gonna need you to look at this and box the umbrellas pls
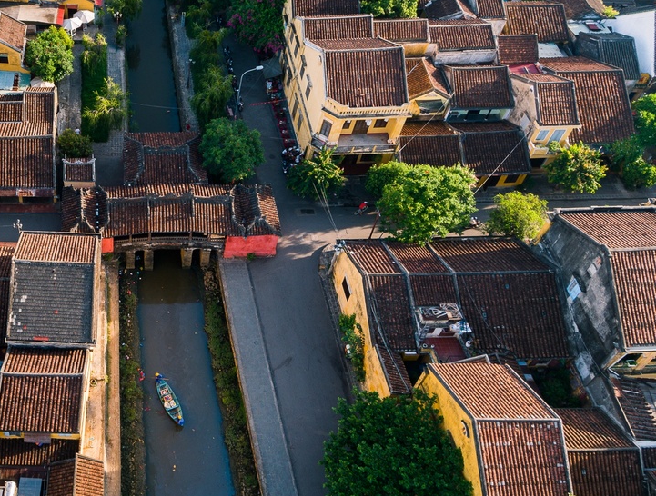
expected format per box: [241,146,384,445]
[73,13,95,31]
[61,22,82,41]
[31,80,54,86]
